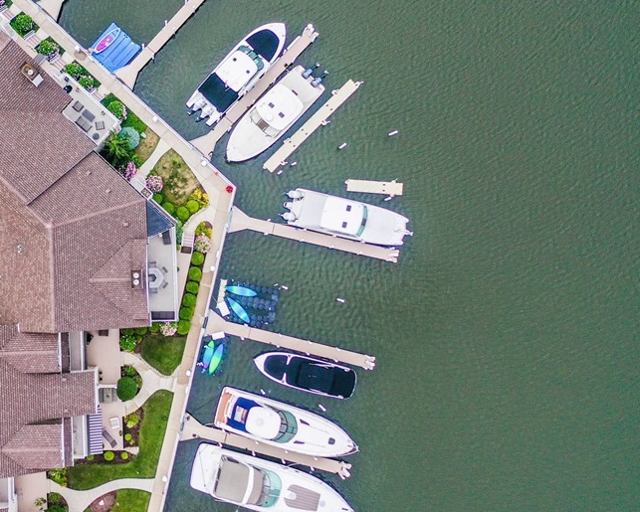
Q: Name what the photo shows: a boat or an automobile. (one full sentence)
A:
This aerial view contains a boat.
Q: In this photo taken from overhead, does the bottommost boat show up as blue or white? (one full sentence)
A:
The color of the bottommost boat is white.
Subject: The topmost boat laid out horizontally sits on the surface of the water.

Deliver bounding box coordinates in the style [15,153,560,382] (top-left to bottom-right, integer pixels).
[271,188,419,243]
